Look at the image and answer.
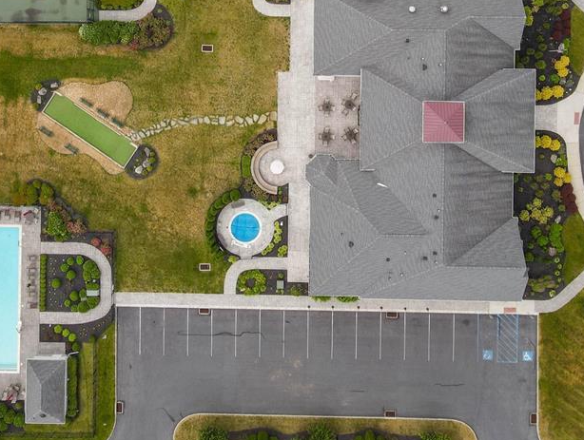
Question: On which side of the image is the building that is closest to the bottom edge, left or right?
left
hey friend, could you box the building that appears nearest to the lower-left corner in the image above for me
[24,355,70,425]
